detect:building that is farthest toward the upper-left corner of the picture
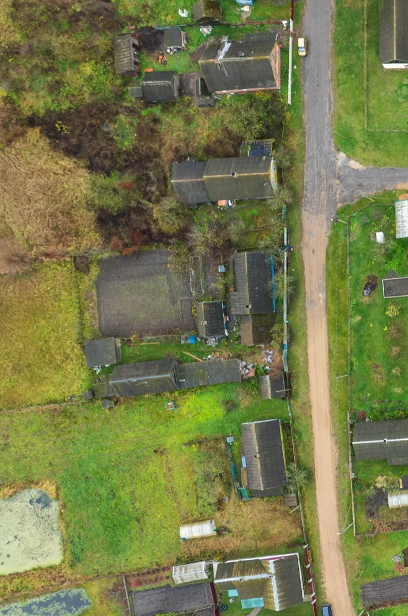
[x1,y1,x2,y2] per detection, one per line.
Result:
[115,32,147,76]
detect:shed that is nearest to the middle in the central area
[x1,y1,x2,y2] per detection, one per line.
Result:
[198,301,228,336]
